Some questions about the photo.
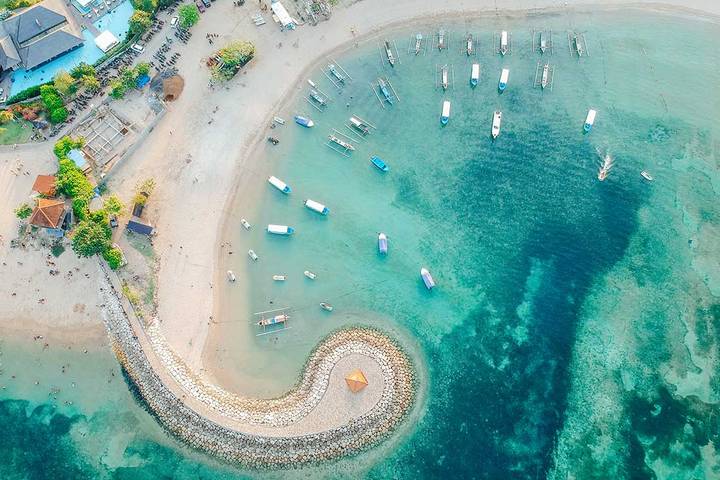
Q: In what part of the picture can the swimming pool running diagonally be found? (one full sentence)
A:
The swimming pool running diagonally appears toward the top left of the photo.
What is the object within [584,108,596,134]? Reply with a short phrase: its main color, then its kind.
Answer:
white boat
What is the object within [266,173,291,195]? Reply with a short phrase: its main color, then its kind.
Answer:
white boat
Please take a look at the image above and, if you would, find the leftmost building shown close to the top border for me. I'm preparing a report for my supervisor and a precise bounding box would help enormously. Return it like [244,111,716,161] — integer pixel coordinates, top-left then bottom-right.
[0,0,87,78]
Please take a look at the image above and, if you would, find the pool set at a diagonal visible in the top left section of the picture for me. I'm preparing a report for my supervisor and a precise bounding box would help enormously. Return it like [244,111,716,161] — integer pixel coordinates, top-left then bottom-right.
[9,0,135,97]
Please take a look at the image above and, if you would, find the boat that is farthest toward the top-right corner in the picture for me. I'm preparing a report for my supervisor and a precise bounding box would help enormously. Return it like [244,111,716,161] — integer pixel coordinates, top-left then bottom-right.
[567,34,589,57]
